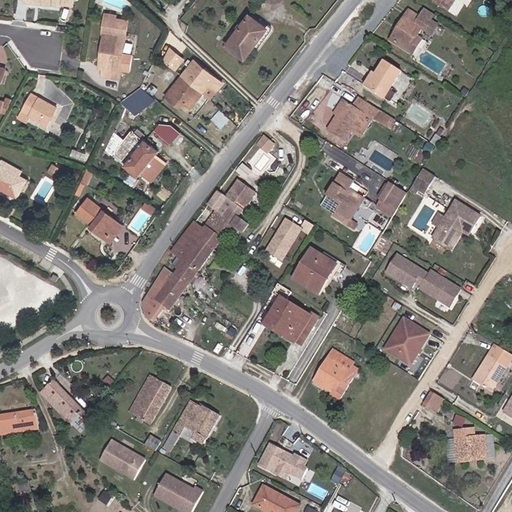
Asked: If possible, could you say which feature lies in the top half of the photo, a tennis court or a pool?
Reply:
pool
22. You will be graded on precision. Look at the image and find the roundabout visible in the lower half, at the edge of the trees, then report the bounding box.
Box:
[62,279,150,346]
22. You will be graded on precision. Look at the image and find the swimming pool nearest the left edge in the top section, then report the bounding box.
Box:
[30,176,54,205]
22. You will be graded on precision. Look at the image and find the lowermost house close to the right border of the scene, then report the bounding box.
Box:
[448,414,494,464]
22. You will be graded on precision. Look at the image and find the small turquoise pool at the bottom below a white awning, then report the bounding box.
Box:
[305,482,330,502]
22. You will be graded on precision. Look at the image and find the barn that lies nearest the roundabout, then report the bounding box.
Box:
[142,222,219,320]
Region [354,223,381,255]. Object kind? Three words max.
swimming pool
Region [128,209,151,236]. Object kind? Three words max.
swimming pool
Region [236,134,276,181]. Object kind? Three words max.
house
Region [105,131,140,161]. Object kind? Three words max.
barn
